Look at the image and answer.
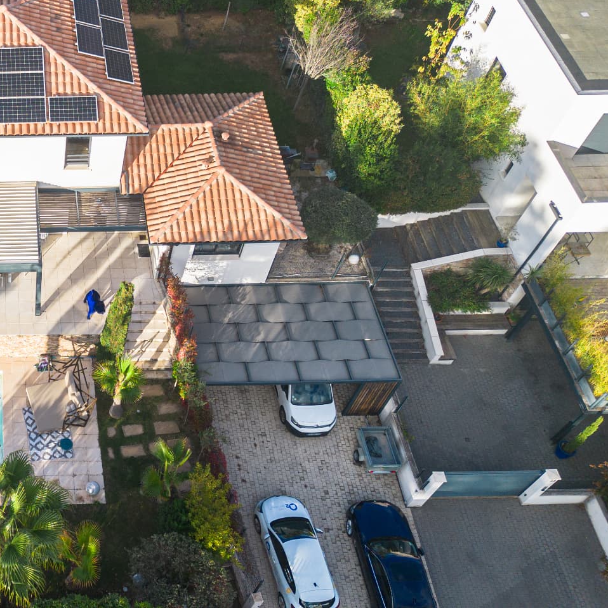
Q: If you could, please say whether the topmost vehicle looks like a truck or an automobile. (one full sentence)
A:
The topmost vehicle can be classified as an automobile.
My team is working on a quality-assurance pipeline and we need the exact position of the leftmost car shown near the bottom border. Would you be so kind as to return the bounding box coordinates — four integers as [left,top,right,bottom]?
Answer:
[250,491,346,608]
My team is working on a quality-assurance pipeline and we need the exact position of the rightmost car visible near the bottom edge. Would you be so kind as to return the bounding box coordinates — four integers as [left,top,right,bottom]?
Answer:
[351,493,452,608]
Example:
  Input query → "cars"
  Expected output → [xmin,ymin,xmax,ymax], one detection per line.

[250,491,346,608]
[277,384,351,439]
[351,493,452,608]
